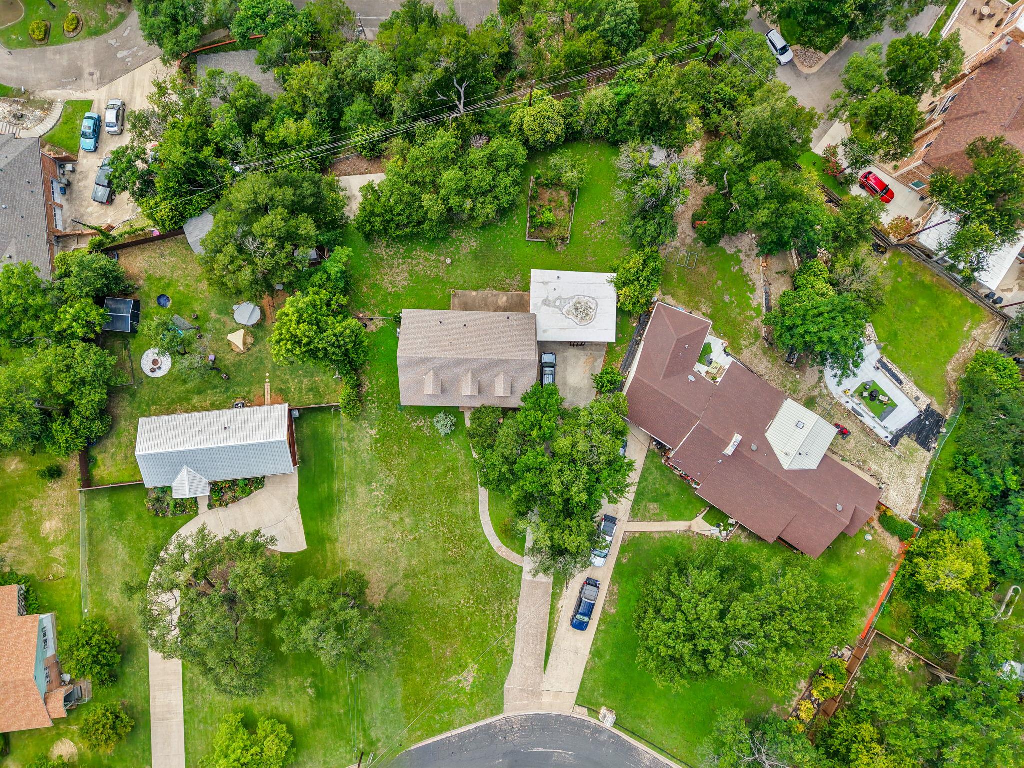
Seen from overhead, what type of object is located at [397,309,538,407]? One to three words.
house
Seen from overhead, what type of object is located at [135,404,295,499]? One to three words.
house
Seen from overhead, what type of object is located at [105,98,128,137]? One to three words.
car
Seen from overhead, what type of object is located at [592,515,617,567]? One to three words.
truck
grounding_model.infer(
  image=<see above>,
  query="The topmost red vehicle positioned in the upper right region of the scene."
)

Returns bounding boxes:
[857,169,897,205]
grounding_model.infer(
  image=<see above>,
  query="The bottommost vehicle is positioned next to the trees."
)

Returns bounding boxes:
[573,578,599,632]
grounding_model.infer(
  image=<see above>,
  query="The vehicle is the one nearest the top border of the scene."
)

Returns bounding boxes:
[764,30,794,69]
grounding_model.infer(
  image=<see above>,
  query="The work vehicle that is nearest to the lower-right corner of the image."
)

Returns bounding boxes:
[837,425,852,440]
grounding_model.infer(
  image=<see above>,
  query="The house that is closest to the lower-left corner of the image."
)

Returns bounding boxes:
[0,582,69,733]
